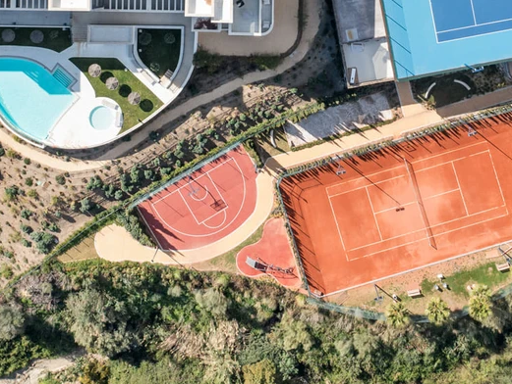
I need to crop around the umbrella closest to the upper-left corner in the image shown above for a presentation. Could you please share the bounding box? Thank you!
[2,29,16,41]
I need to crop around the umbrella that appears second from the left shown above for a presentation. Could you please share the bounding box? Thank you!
[31,30,44,43]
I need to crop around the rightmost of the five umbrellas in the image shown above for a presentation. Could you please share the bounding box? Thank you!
[128,92,142,105]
